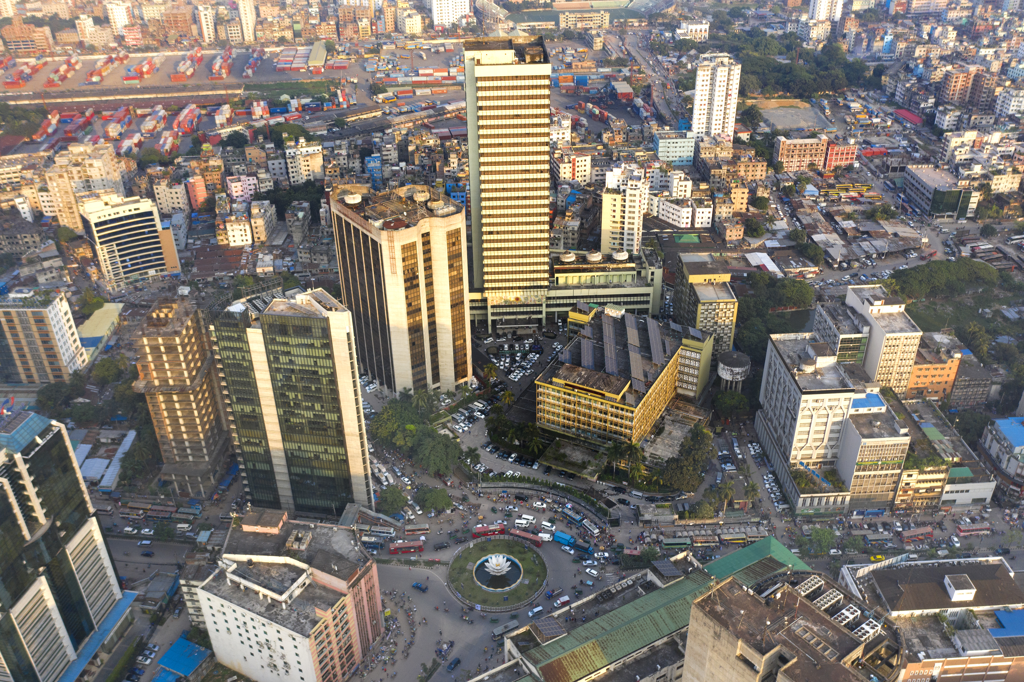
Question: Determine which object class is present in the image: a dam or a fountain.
fountain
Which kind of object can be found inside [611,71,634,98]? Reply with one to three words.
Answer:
shed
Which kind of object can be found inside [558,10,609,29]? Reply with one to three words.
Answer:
building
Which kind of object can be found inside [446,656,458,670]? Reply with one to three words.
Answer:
vehicle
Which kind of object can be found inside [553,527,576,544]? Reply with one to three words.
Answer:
vehicle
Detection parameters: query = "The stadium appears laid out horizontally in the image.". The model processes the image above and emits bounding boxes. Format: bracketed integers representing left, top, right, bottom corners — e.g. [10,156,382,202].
[470,0,706,33]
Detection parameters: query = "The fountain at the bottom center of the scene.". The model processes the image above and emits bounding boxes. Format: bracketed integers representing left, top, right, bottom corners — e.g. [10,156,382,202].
[471,551,524,593]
